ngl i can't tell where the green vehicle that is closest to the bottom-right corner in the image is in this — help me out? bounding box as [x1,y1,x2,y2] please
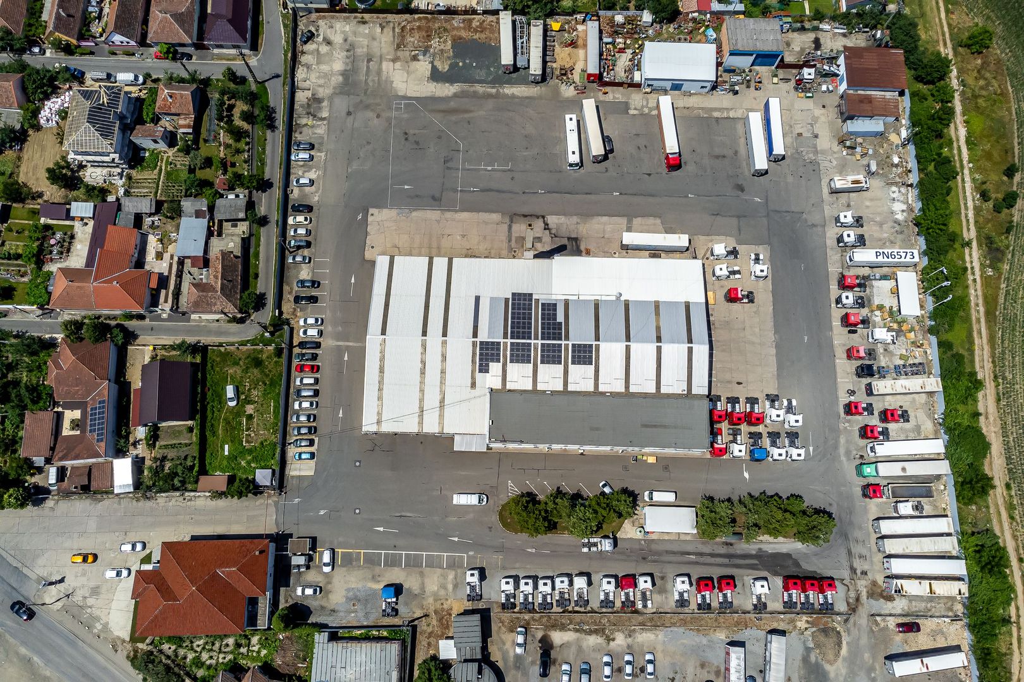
[851,462,882,478]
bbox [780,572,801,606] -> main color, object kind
red truck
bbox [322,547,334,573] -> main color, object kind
white vehicle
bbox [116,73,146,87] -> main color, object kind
white vehicle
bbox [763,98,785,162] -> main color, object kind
white trailer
